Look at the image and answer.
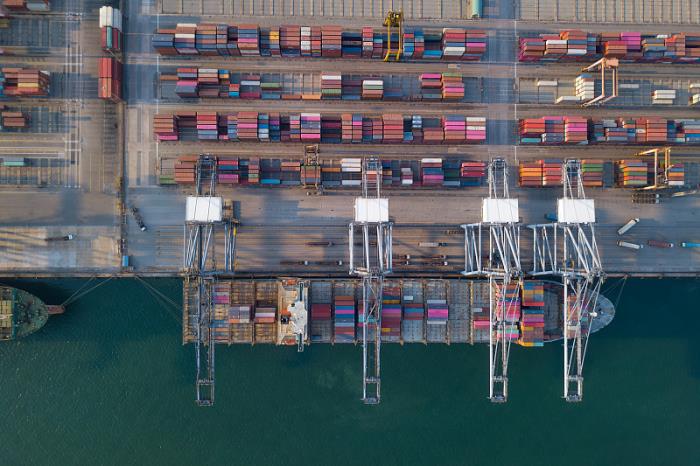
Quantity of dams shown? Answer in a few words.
none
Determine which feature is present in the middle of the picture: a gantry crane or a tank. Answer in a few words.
gantry crane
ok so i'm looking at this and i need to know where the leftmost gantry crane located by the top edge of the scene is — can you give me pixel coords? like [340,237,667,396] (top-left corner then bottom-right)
[383,8,404,63]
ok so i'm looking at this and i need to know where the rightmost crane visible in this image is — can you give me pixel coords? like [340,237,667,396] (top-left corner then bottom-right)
[632,146,669,191]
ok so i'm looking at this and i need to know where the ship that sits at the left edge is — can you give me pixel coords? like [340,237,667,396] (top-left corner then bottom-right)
[0,284,66,340]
